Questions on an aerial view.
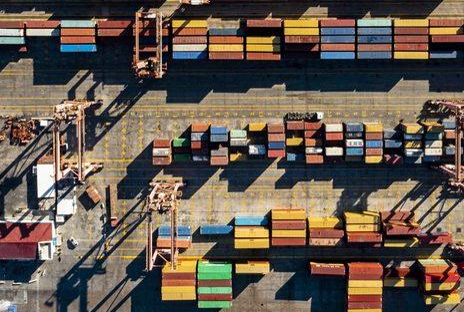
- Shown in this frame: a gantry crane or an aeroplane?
gantry crane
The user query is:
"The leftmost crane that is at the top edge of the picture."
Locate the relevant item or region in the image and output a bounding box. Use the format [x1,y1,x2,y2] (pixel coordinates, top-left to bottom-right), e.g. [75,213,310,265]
[131,11,180,82]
